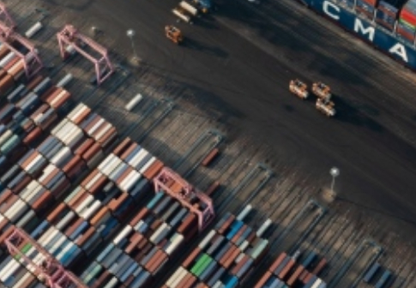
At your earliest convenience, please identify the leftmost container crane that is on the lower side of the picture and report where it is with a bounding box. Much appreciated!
[2,227,68,288]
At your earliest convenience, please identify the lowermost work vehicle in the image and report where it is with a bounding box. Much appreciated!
[320,96,340,119]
